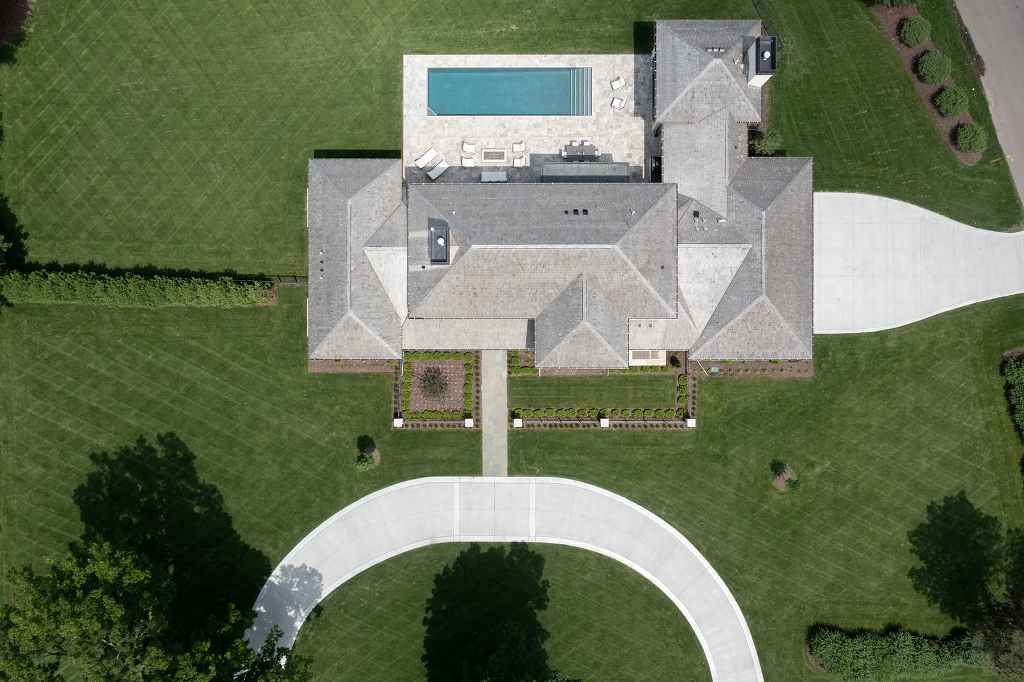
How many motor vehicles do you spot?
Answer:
none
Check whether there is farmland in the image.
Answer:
No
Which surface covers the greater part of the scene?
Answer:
grass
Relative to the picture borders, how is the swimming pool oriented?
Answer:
horizontally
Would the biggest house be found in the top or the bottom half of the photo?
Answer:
top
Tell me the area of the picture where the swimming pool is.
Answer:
top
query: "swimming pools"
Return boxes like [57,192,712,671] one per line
[428,68,591,118]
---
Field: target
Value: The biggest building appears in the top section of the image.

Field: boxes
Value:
[307,18,815,371]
